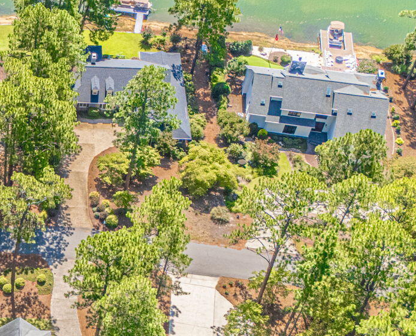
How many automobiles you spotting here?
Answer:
zero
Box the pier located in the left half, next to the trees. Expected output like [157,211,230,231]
[109,6,150,33]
